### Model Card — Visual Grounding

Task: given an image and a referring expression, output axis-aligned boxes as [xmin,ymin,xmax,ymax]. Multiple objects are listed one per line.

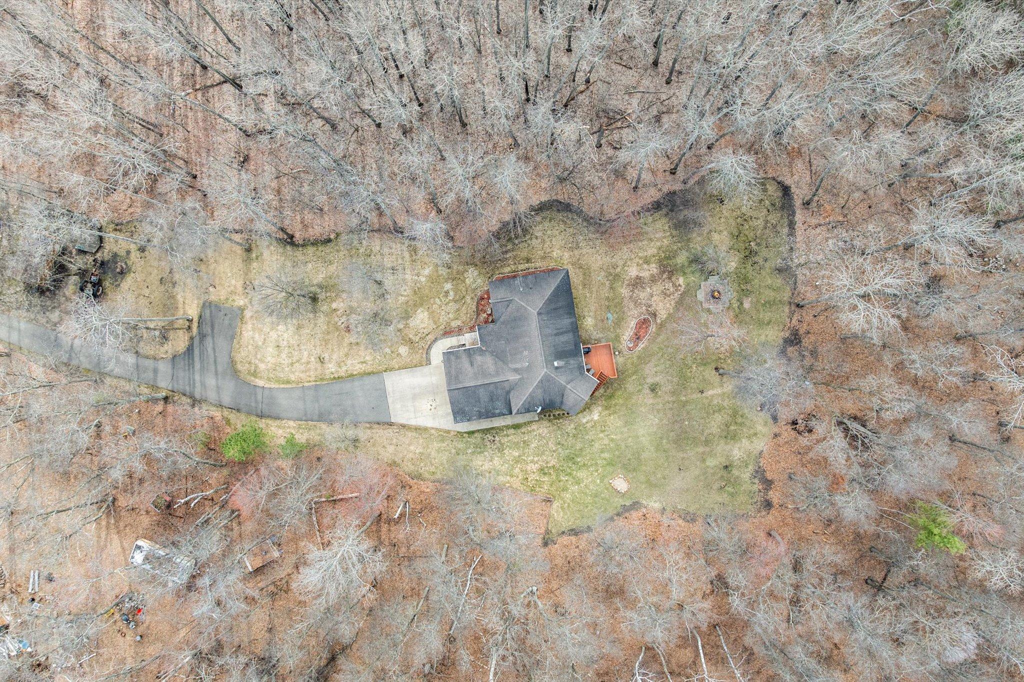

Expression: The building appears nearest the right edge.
[442,268,599,424]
